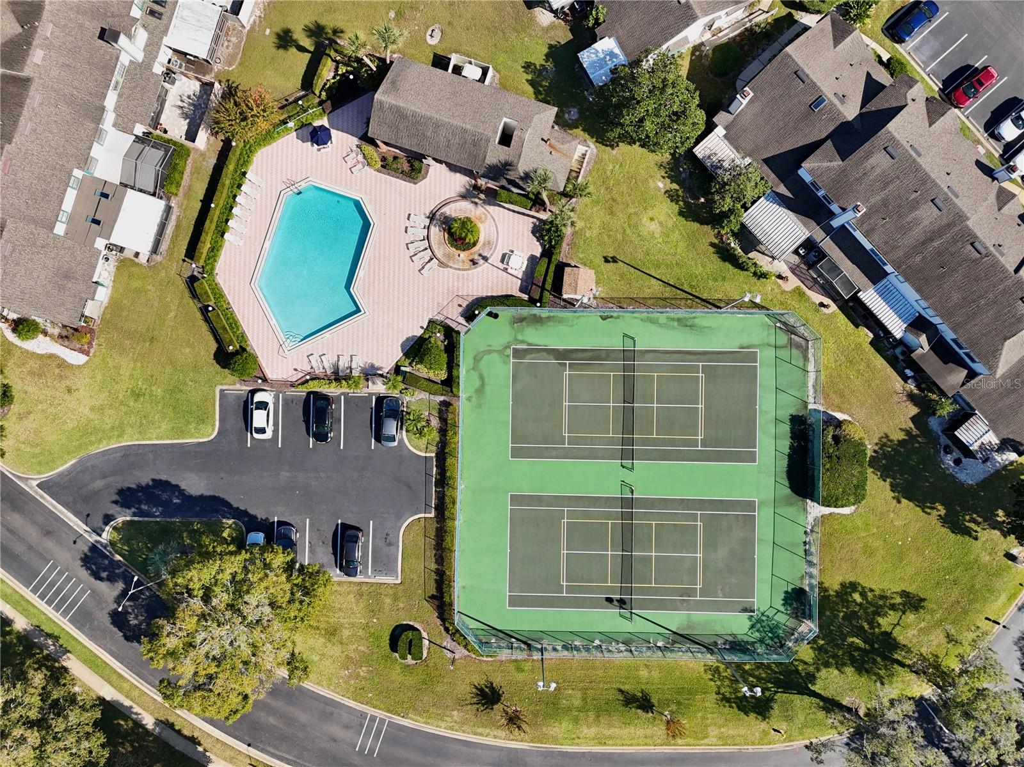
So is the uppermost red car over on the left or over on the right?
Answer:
right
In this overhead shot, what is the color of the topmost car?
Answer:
blue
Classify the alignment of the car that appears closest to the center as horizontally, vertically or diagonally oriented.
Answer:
vertically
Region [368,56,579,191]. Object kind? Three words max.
building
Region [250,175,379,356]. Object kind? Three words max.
swimming pool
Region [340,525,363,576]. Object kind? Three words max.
car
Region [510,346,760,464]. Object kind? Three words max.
tennis court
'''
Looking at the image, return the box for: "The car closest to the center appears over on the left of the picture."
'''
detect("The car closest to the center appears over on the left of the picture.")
[379,395,402,447]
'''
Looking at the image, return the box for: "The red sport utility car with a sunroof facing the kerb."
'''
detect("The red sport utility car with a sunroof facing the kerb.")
[949,64,1000,109]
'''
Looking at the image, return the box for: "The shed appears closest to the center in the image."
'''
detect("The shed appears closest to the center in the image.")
[562,267,596,298]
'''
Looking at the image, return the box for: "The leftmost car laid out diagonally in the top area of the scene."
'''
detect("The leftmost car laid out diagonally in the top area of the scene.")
[893,0,940,43]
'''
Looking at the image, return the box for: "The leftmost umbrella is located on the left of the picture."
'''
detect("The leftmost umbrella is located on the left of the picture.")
[307,122,332,147]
